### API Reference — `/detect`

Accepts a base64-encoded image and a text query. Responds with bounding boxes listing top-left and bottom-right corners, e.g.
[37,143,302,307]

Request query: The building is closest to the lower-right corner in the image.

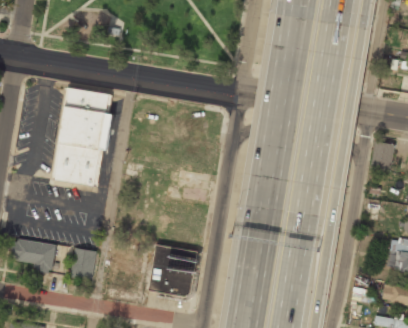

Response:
[374,314,408,328]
